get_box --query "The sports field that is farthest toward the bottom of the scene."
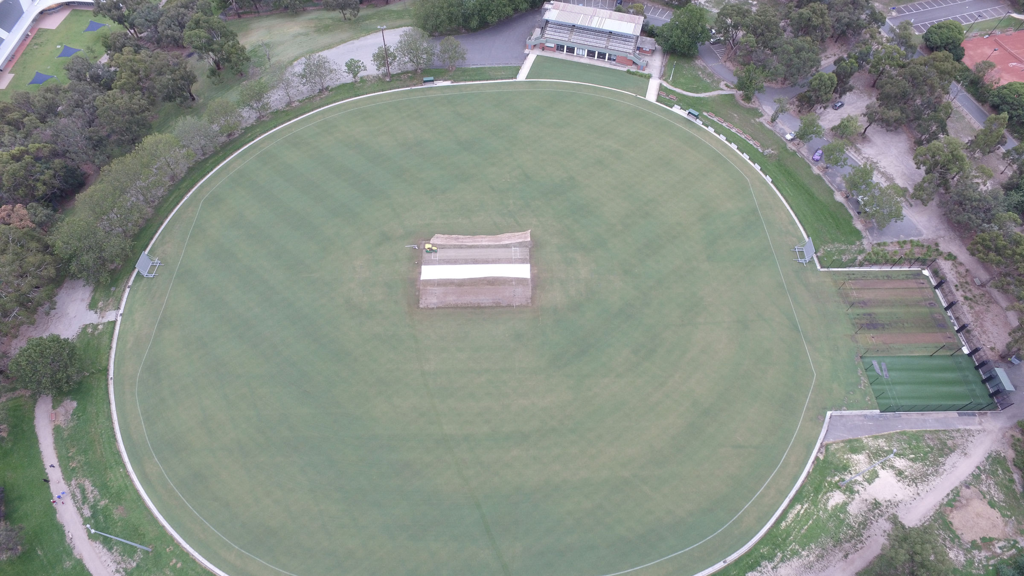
[863,355,996,411]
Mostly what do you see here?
grass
